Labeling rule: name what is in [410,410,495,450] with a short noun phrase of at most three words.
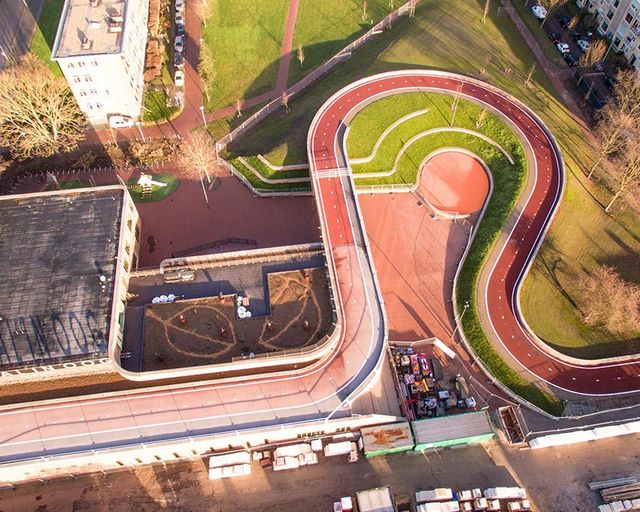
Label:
shed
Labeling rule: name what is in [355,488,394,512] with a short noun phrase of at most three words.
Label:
trailer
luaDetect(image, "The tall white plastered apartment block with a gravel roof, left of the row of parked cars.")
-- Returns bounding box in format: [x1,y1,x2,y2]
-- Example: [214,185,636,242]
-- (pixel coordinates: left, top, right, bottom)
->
[51,0,149,123]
